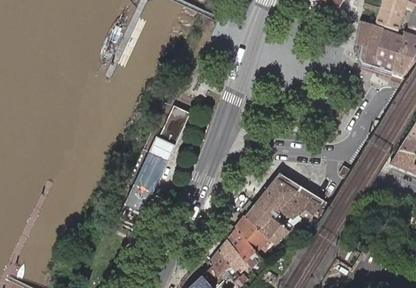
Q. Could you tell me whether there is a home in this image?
Yes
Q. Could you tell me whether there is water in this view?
Yes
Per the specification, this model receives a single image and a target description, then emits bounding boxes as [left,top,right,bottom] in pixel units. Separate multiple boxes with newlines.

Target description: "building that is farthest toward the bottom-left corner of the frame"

[126,182,154,206]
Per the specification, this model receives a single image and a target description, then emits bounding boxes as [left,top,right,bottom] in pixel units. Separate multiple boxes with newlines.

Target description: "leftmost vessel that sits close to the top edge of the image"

[98,6,128,64]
